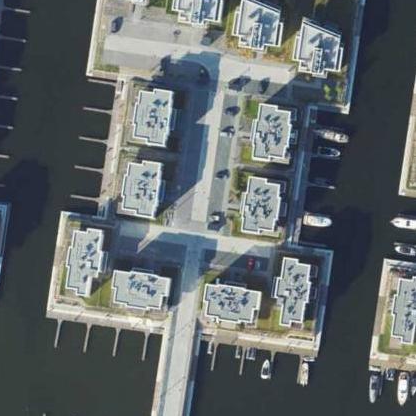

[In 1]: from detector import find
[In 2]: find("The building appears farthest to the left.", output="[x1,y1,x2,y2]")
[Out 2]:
[65,229,106,297]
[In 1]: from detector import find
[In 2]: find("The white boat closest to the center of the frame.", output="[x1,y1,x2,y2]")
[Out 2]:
[303,214,331,227]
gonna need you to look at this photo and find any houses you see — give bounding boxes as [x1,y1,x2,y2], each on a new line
[231,0,286,51]
[291,18,345,76]
[202,281,263,323]
[65,229,106,297]
[110,267,171,310]
[132,90,177,146]
[170,0,224,26]
[122,162,167,218]
[388,277,416,344]
[240,177,288,234]
[273,258,317,326]
[250,104,299,161]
